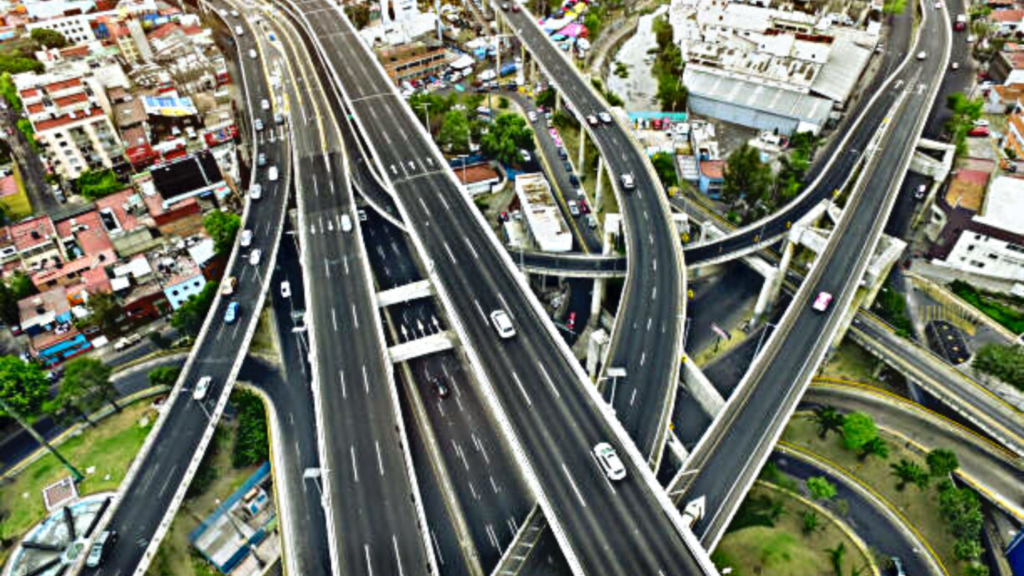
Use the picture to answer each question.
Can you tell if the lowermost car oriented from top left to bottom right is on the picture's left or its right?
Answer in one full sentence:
The lowermost car oriented from top left to bottom right appears in the right half of the scene.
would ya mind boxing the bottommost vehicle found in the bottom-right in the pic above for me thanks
[880,543,914,576]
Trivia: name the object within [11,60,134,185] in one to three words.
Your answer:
building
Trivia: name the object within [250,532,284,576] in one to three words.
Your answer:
house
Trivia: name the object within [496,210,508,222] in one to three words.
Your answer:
vehicle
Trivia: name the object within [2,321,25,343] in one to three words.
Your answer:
car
